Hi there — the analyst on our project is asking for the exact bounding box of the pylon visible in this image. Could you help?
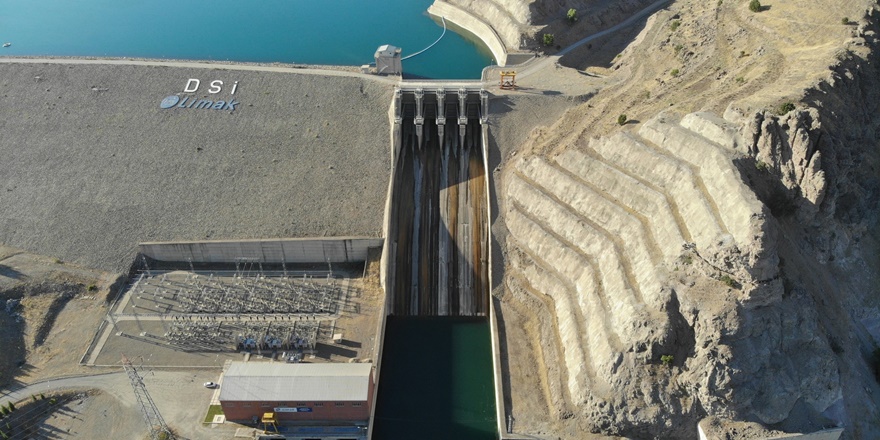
[115,358,174,440]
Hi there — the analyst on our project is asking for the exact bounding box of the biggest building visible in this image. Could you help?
[217,360,374,430]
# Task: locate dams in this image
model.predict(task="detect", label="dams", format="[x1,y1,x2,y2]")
[0,54,398,284]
